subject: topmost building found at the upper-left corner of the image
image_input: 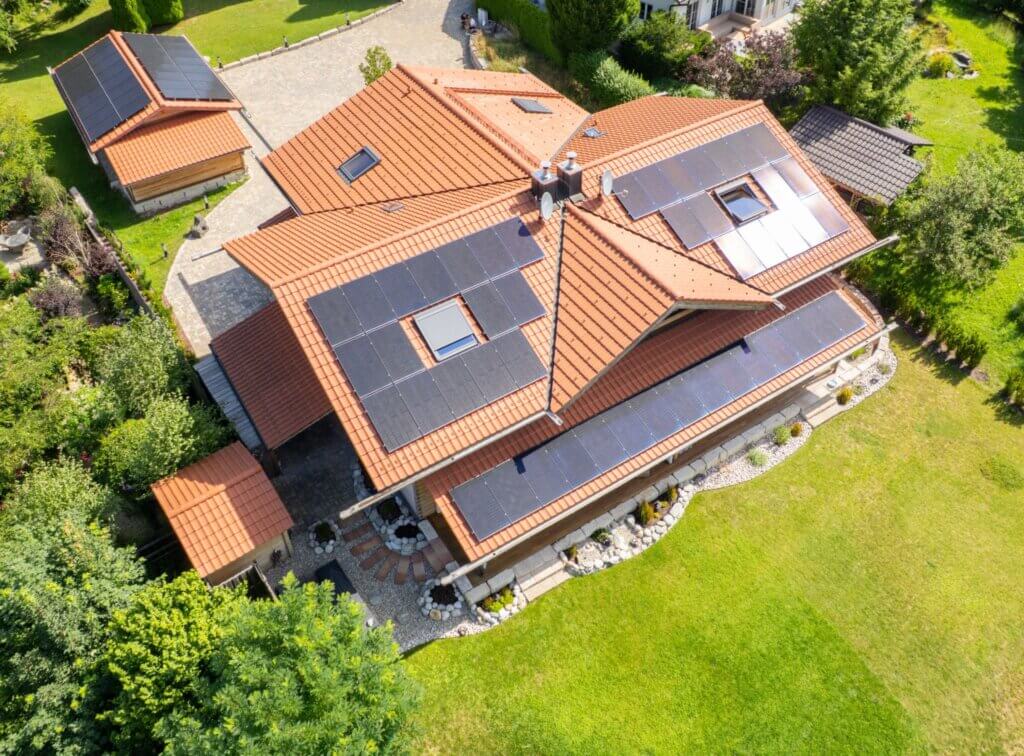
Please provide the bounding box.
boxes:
[46,27,254,213]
